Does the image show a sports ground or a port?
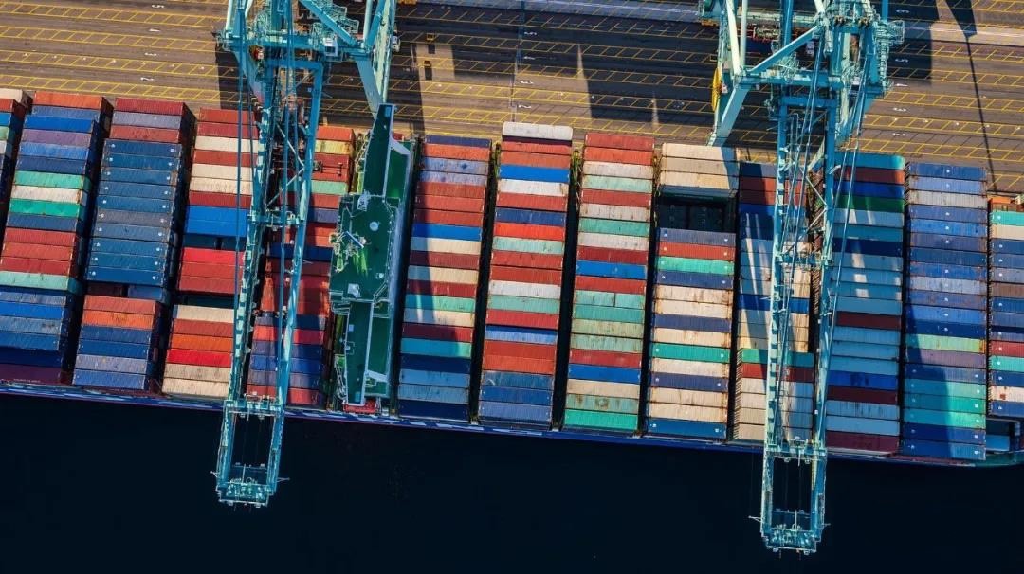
port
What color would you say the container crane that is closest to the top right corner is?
blue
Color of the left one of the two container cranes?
blue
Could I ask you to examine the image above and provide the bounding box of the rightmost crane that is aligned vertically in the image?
[694,0,898,557]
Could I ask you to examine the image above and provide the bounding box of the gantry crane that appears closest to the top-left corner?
[204,0,406,509]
